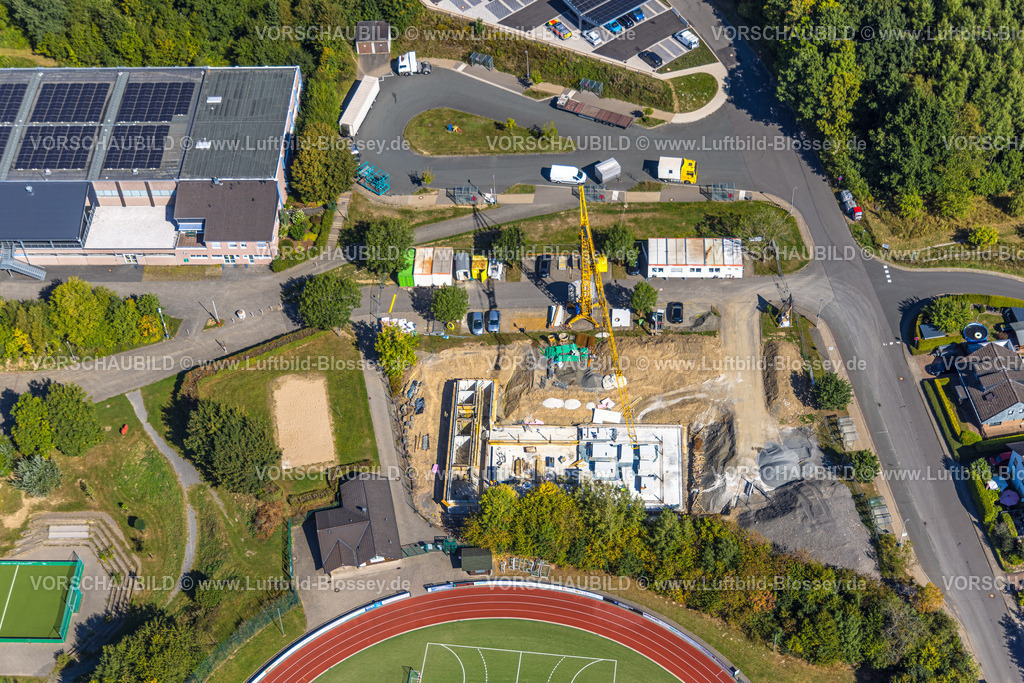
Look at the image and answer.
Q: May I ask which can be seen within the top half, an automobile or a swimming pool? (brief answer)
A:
automobile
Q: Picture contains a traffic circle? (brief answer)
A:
No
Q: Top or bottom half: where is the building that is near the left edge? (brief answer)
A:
top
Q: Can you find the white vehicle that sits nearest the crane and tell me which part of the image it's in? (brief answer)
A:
top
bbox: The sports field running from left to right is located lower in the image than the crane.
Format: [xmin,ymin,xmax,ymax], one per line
[308,615,688,683]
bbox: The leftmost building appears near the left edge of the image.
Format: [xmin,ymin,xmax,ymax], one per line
[0,64,303,268]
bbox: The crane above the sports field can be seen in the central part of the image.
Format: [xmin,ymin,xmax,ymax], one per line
[566,182,638,446]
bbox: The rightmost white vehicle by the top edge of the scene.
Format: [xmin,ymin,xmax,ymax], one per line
[674,29,698,46]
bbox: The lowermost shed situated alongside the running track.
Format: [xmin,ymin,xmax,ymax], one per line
[458,548,492,577]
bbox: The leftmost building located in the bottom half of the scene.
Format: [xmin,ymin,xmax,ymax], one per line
[315,468,402,578]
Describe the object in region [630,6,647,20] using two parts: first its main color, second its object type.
blue car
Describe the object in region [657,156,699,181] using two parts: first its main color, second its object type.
white truck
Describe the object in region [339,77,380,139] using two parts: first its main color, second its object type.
white trailer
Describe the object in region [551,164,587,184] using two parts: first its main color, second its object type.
white vehicle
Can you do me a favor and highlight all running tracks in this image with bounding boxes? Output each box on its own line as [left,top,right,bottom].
[265,589,731,683]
